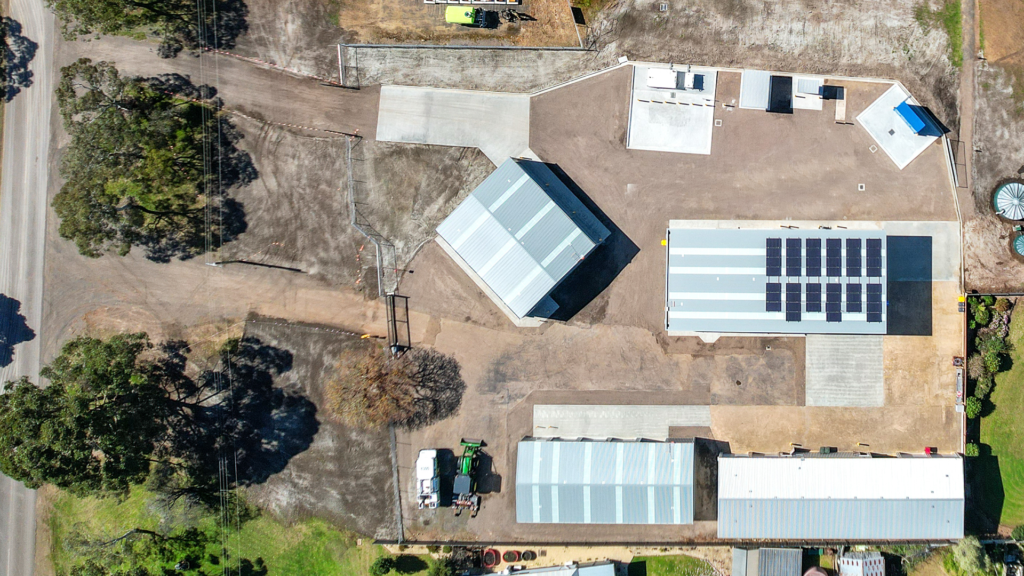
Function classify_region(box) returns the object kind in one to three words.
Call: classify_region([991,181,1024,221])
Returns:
water tank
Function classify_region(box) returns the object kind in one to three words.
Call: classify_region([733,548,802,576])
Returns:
shed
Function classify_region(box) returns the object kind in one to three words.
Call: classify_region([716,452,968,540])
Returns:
shed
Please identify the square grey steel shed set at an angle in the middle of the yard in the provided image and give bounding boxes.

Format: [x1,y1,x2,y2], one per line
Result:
[436,157,598,320]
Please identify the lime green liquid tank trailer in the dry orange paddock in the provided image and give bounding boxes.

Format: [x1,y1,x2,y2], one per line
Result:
[446,7,490,29]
